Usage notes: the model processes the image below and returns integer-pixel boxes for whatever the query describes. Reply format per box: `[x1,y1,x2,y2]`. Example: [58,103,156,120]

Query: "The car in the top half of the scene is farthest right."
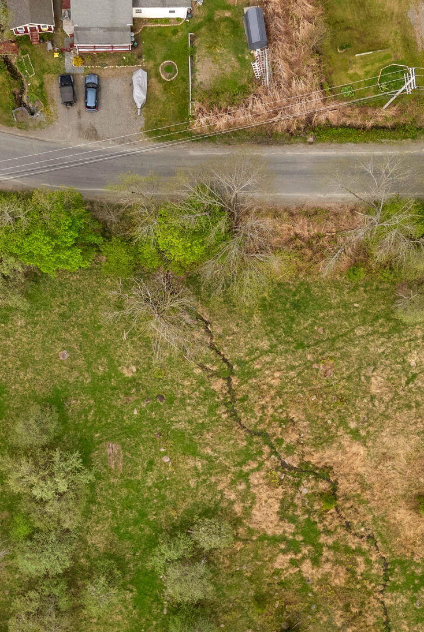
[82,73,99,111]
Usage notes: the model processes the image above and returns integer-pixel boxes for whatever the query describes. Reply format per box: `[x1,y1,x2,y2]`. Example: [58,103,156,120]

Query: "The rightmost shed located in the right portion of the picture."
[244,1,270,49]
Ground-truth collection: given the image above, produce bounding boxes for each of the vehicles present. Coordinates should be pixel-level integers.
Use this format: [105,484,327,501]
[58,73,76,109]
[82,73,99,111]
